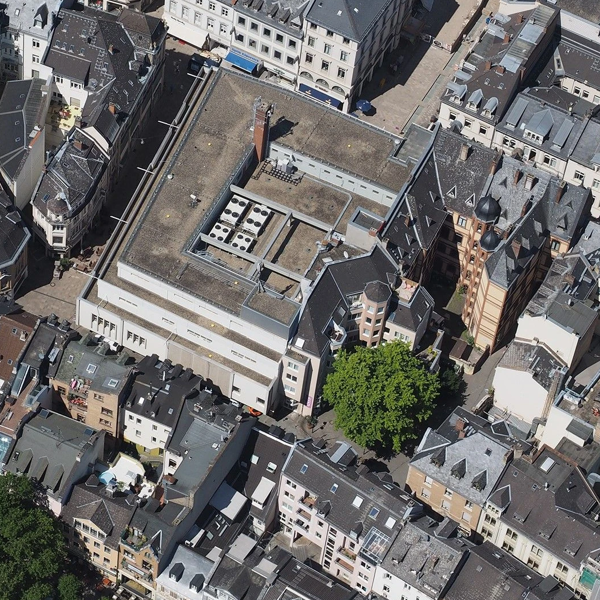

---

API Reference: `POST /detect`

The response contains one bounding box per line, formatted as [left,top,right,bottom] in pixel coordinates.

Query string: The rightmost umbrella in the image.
[358,102,374,116]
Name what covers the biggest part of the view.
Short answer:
buildings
